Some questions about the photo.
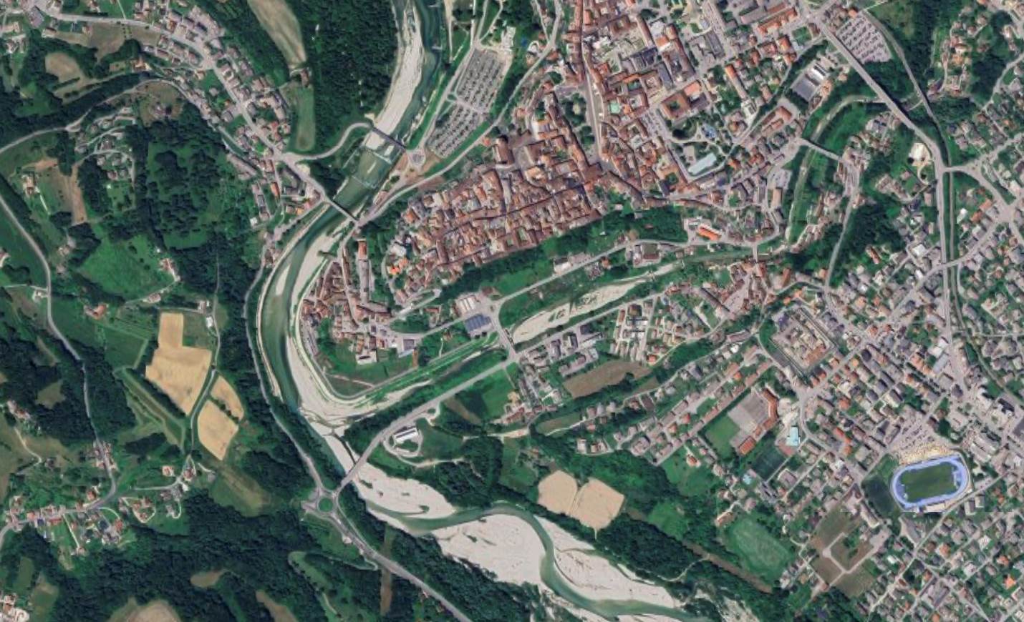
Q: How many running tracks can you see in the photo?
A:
1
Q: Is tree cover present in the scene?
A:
Yes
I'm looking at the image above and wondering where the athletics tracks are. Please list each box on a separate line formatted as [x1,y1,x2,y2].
[892,456,970,508]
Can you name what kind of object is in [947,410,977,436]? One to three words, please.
building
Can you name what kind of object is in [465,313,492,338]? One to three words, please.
building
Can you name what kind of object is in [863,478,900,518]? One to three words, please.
soccer field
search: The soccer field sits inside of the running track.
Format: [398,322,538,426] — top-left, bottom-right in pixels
[904,462,958,502]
